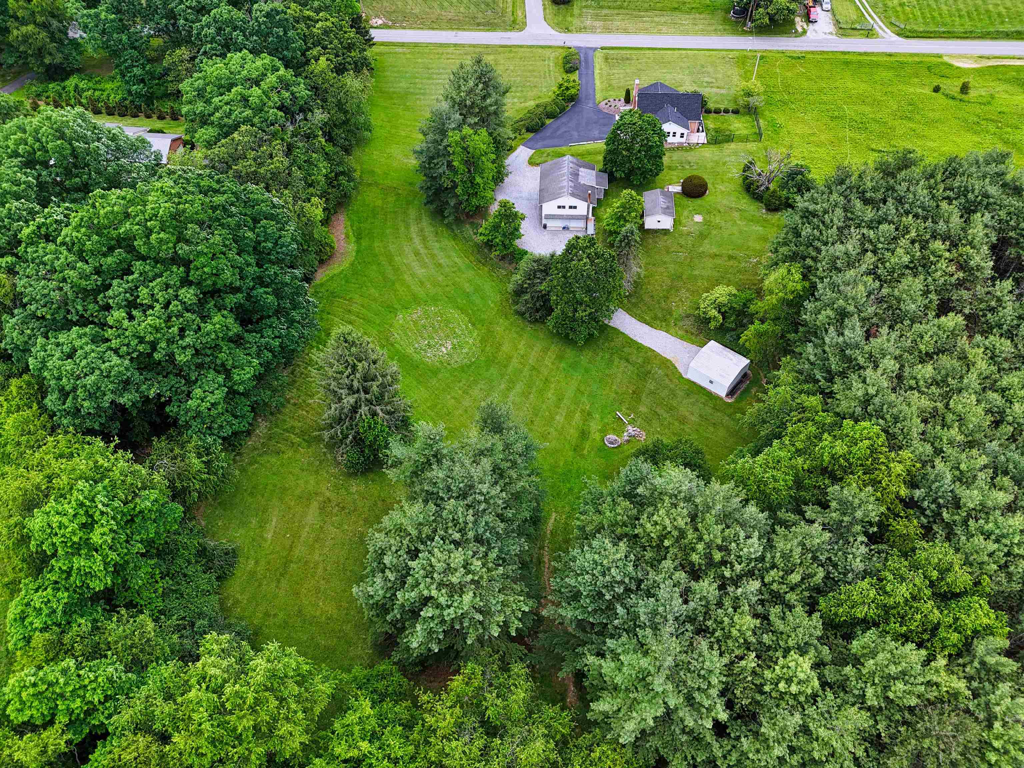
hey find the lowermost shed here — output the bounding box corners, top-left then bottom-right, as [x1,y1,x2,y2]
[686,339,751,397]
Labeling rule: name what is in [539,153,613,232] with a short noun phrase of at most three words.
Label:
building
